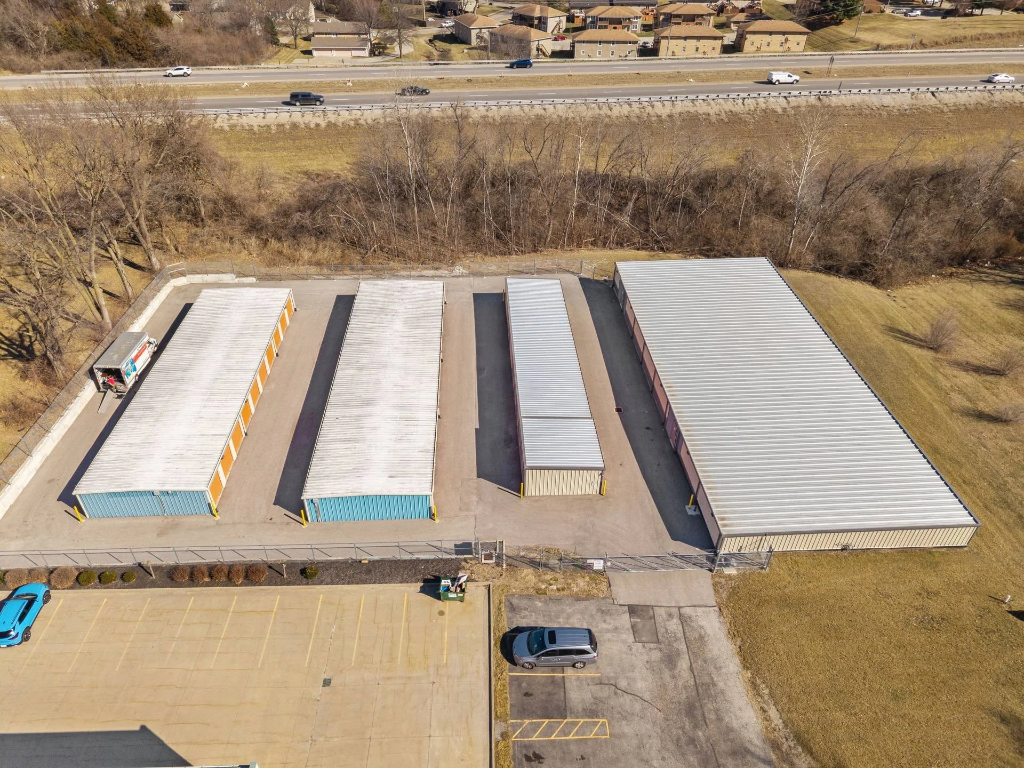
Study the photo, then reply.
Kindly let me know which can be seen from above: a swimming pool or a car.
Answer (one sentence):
Looking from above, you can make out a car.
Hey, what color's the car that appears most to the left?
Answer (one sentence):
The car that appears most to the left looks blue in the image.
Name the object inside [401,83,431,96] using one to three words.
vehicle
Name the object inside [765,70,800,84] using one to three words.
vehicle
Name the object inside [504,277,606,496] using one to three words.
building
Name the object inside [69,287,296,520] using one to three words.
building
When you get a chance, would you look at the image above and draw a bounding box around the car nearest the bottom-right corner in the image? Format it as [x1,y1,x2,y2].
[512,624,602,670]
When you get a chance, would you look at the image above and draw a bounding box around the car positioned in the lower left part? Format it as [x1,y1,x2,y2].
[0,583,52,650]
